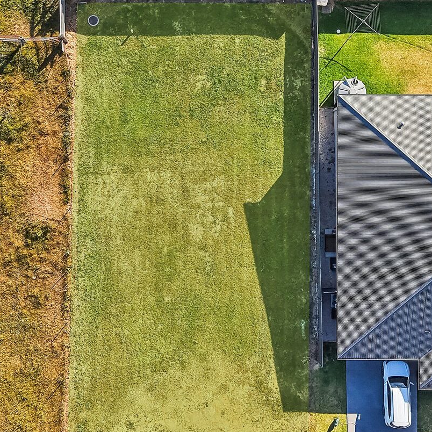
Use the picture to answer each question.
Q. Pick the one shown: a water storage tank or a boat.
water storage tank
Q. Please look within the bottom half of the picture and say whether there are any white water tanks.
No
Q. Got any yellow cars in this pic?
No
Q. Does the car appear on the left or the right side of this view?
right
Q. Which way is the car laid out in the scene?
up and down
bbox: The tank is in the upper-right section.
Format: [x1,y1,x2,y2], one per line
[323,76,366,108]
